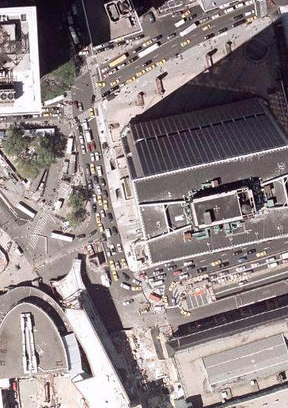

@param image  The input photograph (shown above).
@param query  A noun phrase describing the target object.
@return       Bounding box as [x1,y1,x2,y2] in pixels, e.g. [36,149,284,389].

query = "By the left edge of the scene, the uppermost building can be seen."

[0,7,44,80]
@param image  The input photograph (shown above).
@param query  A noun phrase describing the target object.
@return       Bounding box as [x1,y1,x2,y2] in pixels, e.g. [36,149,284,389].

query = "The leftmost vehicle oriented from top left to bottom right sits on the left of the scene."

[17,202,36,218]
